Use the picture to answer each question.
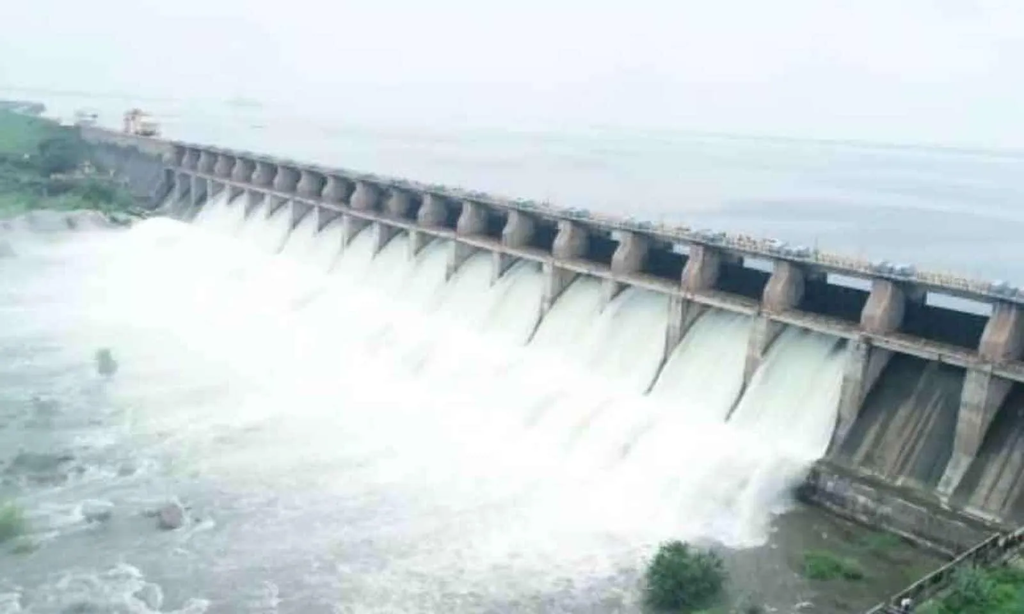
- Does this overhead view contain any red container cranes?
No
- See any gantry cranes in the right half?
No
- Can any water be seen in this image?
Yes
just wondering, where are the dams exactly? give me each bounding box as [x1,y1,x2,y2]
[151,139,1024,564]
